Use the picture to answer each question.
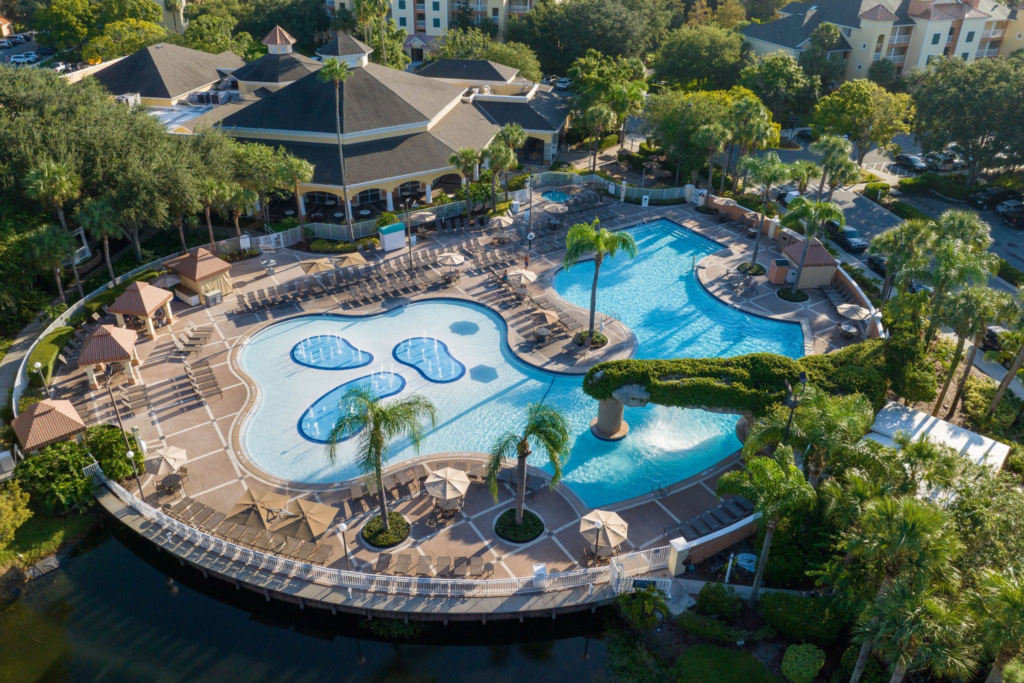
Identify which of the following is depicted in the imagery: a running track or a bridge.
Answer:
bridge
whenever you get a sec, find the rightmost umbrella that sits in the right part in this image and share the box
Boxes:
[837,309,873,329]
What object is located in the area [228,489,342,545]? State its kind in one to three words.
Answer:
umbrella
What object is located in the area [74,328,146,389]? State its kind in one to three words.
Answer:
gazebo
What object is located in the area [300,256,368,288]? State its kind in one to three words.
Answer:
umbrella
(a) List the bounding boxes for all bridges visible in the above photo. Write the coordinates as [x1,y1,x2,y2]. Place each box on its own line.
[577,356,826,454]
